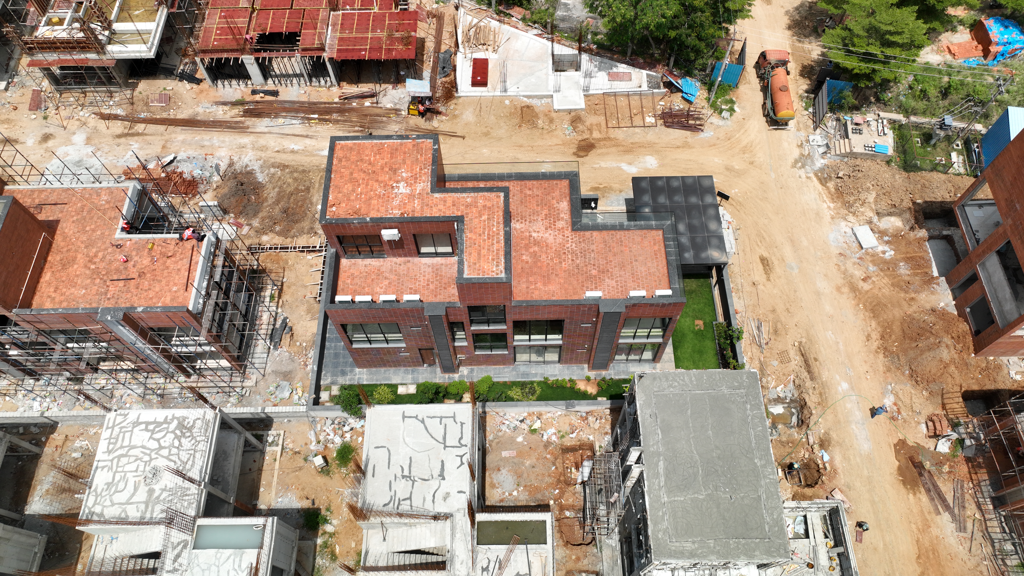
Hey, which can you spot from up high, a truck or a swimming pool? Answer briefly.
truck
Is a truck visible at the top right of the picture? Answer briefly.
Yes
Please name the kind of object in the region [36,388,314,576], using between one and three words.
house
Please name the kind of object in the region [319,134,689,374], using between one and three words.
house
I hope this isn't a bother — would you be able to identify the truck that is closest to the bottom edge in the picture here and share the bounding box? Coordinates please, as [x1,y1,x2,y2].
[752,50,798,130]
